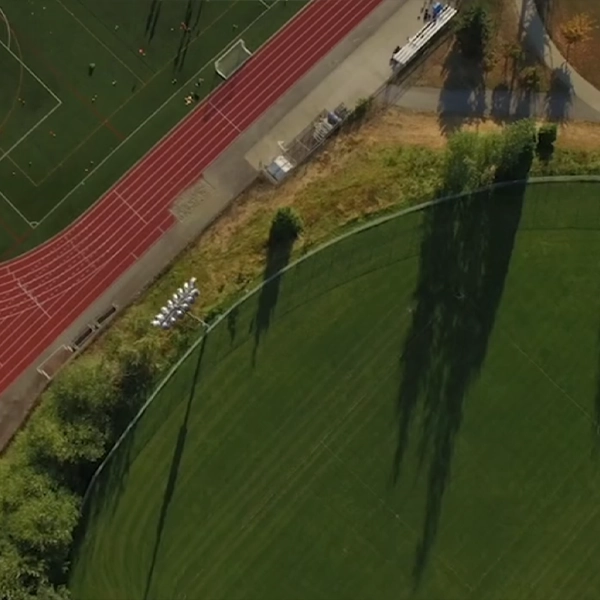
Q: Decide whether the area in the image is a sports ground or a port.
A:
sports ground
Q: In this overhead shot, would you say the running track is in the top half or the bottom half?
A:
top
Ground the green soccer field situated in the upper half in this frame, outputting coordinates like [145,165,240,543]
[0,0,311,266]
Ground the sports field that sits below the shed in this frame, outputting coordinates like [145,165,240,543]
[65,181,600,600]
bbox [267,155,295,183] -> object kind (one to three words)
shed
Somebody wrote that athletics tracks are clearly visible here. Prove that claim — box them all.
[0,0,387,393]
